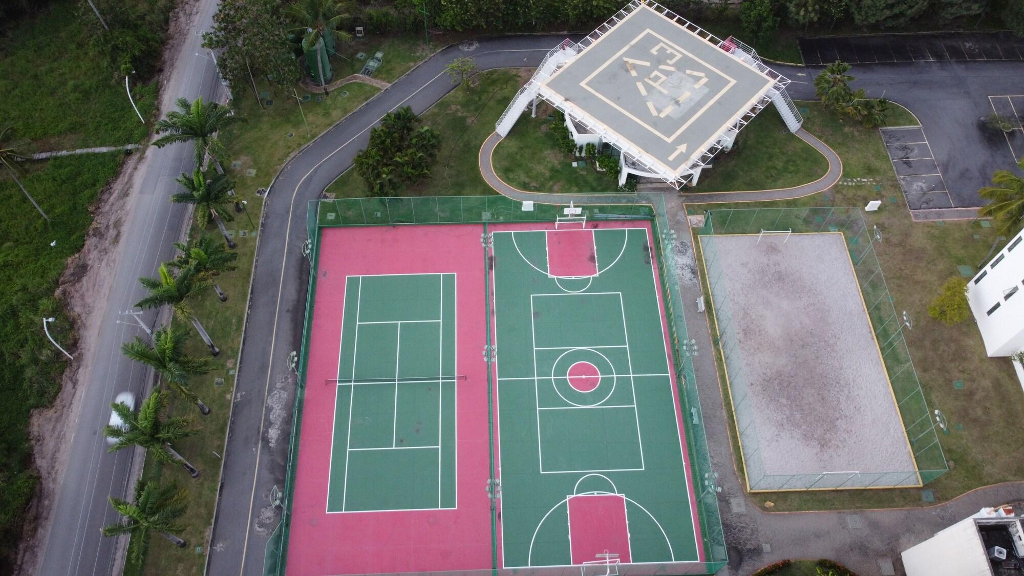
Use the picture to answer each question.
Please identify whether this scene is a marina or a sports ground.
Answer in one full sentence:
The area seen from above is a sports ground.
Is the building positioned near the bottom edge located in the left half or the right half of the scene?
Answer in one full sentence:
The building positioned near the bottom edge is on the right side of the image.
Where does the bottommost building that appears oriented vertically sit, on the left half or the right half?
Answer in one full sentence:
It is on the right.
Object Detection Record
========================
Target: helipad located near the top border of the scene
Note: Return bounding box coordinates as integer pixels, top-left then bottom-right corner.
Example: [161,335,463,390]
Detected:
[495,0,810,192]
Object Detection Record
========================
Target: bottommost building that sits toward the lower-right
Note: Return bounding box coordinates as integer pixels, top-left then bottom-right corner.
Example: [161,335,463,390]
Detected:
[900,501,1024,576]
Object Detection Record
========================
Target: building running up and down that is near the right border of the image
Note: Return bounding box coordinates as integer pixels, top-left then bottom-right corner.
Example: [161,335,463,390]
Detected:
[967,228,1024,356]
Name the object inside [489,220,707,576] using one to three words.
basketball court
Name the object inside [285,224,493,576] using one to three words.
tennis court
